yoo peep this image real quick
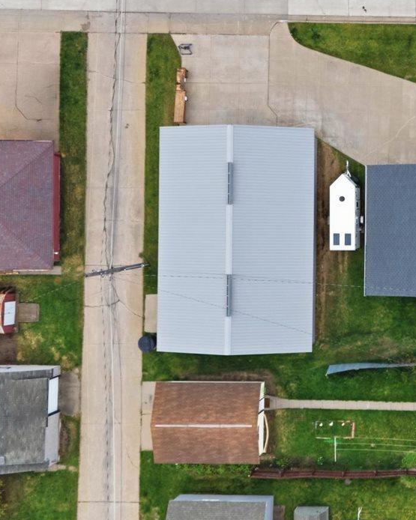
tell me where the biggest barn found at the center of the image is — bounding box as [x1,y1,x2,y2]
[156,124,322,356]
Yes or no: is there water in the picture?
No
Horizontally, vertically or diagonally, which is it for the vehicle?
vertically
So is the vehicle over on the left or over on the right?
right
